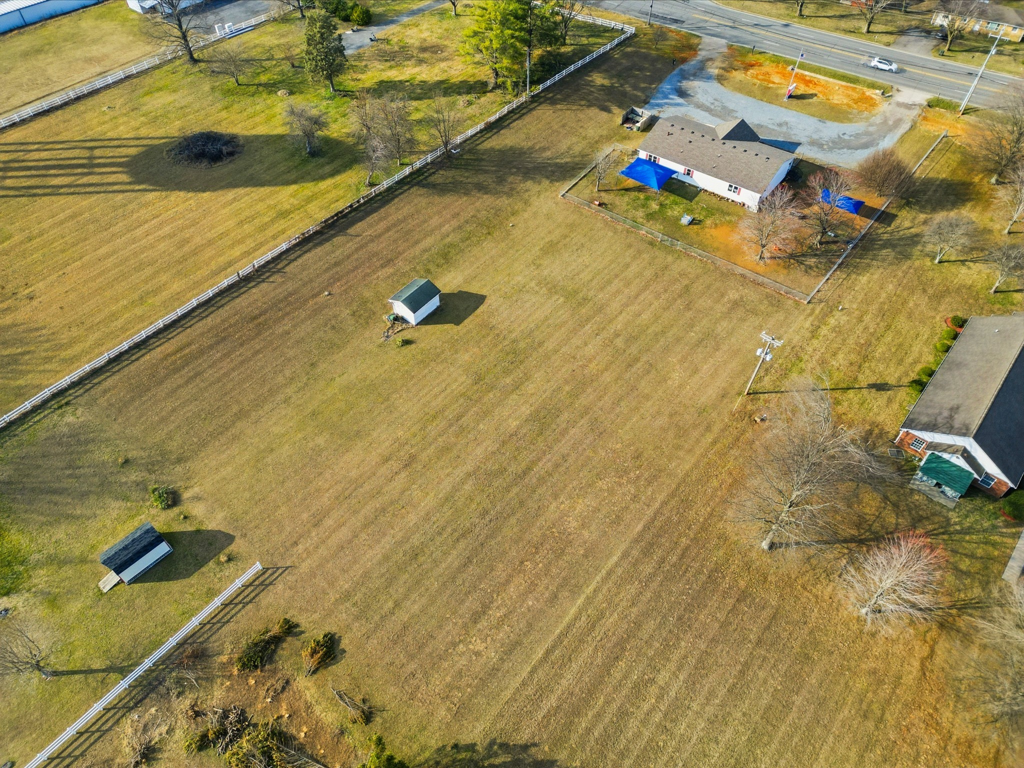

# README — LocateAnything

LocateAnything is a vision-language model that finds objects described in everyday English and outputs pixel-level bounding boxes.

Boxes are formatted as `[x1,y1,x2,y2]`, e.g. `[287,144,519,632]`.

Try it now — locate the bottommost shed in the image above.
[96,519,171,594]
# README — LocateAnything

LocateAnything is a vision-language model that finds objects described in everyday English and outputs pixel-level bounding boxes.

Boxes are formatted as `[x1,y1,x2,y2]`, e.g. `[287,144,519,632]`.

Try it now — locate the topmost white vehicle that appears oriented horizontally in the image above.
[872,56,900,71]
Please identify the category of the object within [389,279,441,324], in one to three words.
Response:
shed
